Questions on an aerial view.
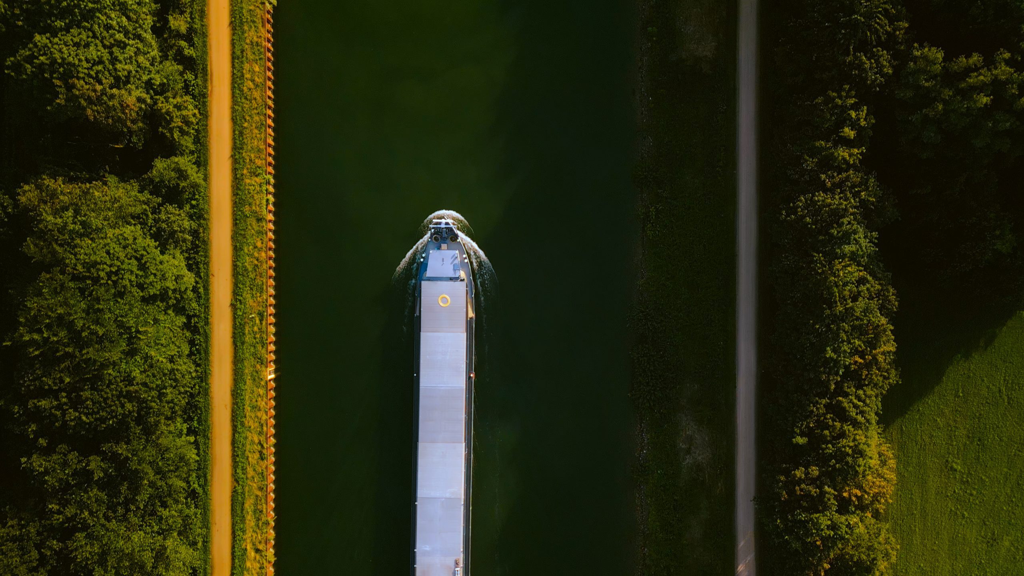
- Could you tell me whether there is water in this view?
Yes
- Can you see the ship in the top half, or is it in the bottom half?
bottom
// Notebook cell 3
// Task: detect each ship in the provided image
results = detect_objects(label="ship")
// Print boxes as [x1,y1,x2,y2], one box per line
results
[410,216,475,576]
